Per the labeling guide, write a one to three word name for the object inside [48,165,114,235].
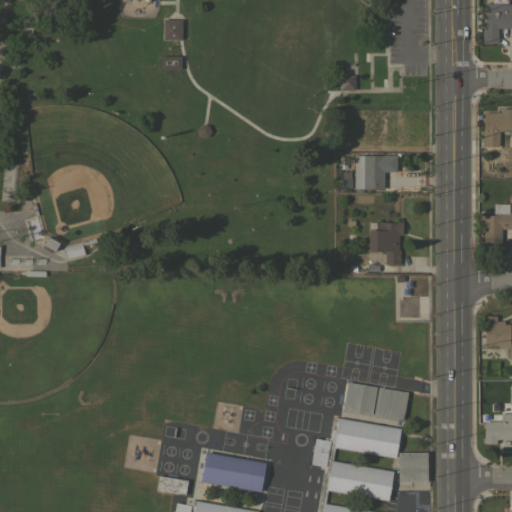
baseball field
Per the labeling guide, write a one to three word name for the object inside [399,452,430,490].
building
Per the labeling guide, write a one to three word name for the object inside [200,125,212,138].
gazebo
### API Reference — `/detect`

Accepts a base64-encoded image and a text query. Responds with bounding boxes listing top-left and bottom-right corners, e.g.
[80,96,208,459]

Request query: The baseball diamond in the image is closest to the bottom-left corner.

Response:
[0,278,116,405]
